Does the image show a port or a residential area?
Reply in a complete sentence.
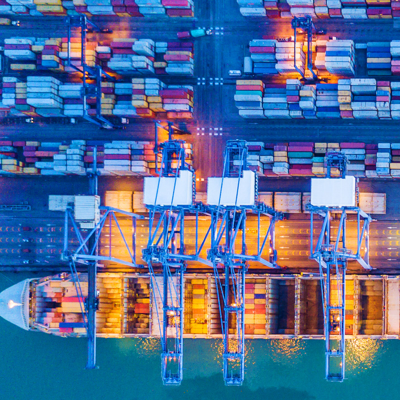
It's a port.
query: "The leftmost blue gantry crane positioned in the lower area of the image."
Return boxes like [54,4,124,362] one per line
[54,145,154,366]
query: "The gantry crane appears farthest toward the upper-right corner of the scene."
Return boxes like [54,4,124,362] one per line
[292,12,325,82]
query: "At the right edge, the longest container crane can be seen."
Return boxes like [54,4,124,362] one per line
[309,153,382,382]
